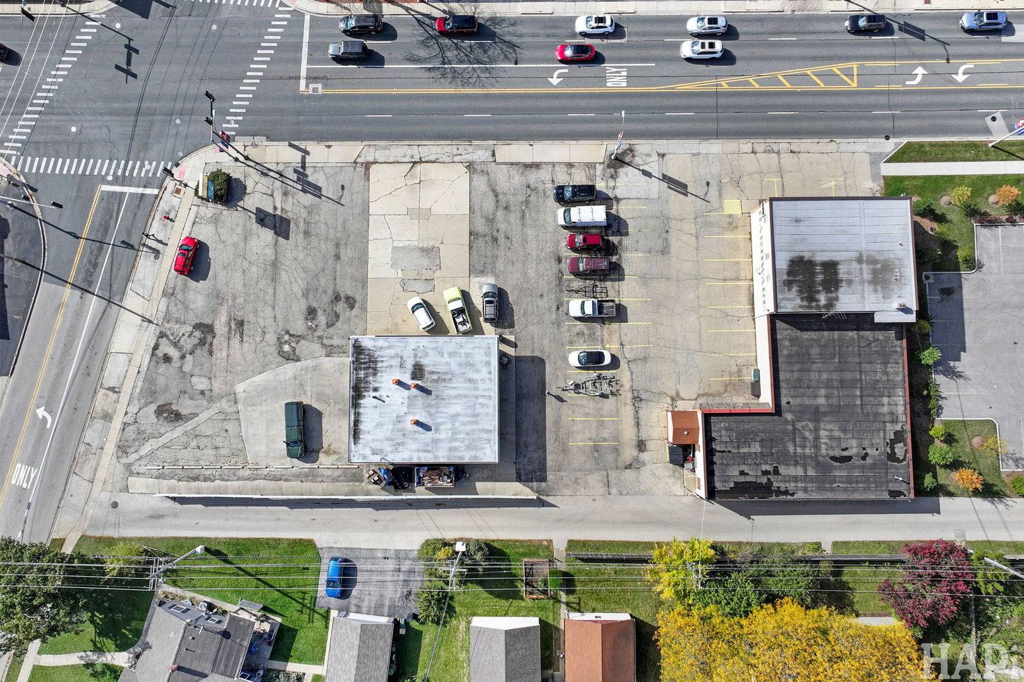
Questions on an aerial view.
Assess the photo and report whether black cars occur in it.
Yes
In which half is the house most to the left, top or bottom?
bottom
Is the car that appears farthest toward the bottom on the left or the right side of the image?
left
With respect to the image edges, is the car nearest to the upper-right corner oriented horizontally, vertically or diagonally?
horizontally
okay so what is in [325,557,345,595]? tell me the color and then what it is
blue car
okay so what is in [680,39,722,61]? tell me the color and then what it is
white car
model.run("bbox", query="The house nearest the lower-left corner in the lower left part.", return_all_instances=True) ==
[122,603,263,682]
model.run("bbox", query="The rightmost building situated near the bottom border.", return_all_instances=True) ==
[563,613,637,682]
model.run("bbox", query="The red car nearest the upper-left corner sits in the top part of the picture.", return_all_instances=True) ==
[175,236,199,275]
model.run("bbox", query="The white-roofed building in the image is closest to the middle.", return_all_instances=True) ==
[348,334,501,466]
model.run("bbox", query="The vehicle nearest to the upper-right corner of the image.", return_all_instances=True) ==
[959,10,1006,33]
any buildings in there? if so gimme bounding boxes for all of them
[325,612,395,682]
[693,197,918,500]
[469,618,543,682]
[563,613,637,682]
[122,603,263,682]
[348,334,501,466]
